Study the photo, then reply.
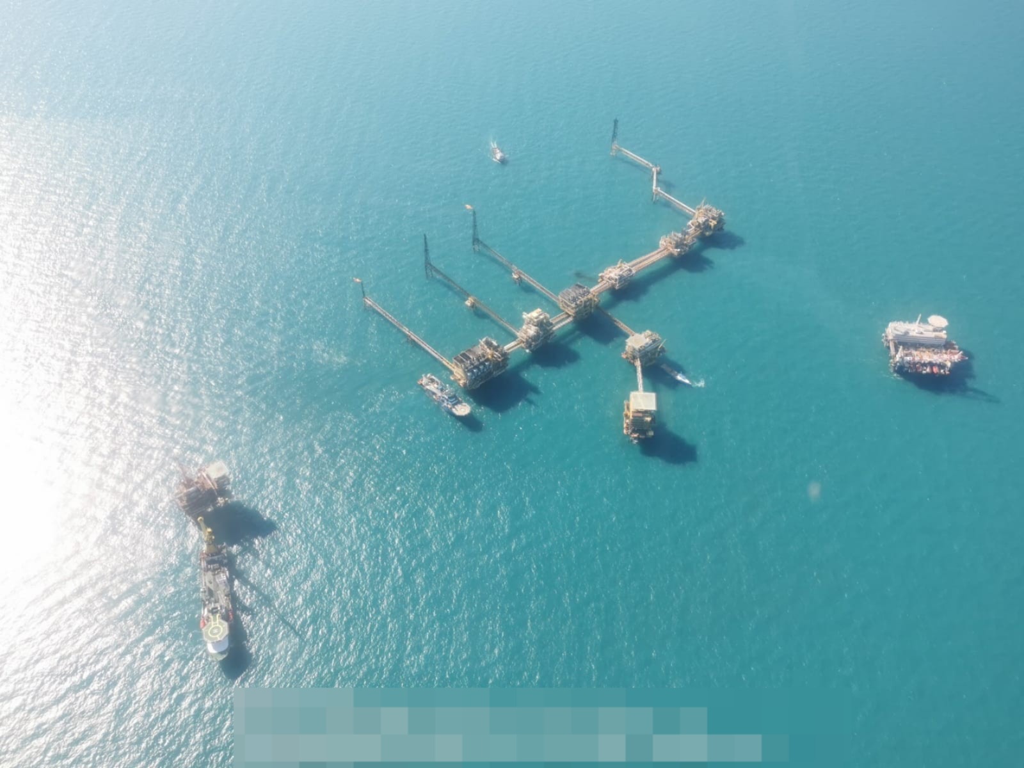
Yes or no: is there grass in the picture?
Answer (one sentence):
No, there's no grass in this view.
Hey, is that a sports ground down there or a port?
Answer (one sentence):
The picture captures a port.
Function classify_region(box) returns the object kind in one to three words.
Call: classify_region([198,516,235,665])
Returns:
ship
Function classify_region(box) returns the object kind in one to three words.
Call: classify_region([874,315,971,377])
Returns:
ship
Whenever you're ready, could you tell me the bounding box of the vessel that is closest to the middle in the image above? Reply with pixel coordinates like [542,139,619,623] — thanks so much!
[418,366,474,415]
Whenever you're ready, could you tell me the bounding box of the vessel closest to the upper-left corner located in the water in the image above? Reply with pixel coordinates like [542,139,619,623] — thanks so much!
[491,146,504,161]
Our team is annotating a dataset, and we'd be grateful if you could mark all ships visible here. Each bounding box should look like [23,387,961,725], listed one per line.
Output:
[874,315,971,377]
[418,366,474,415]
[657,360,695,387]
[198,516,235,665]
[491,146,504,161]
